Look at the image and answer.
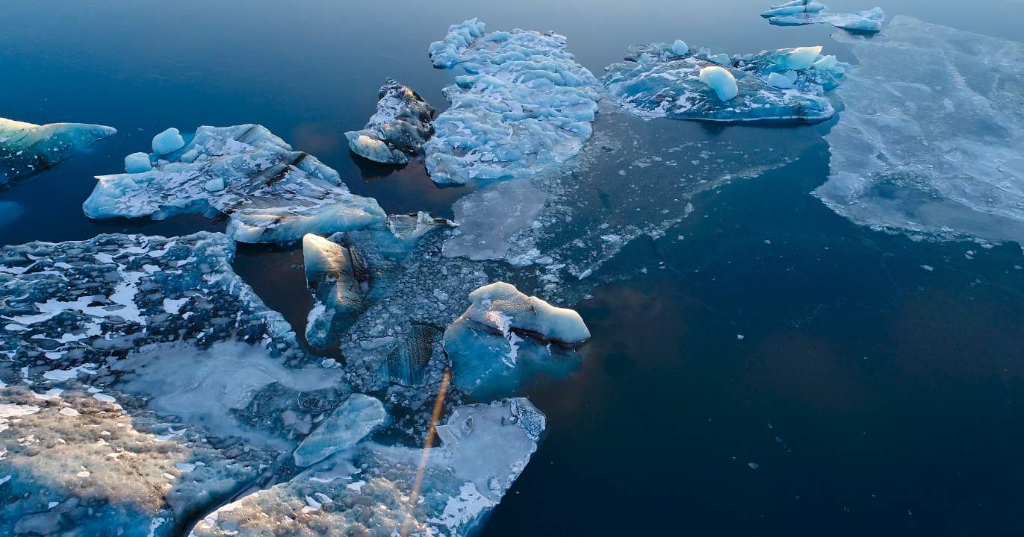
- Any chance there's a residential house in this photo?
No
